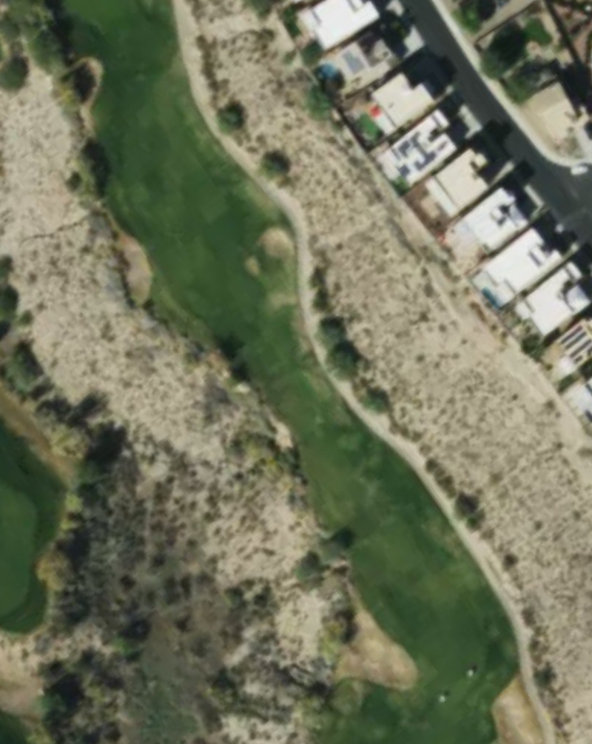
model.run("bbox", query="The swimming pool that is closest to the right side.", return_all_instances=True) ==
[481,286,500,311]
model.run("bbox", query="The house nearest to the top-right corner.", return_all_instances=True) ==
[530,82,577,140]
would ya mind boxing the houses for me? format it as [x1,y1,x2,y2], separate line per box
[558,319,592,374]
[461,186,528,255]
[487,227,563,305]
[377,109,457,185]
[516,263,591,337]
[530,82,577,140]
[426,148,489,215]
[341,38,392,94]
[371,72,435,133]
[297,0,379,49]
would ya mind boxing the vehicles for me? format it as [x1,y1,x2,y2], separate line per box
[570,165,587,174]
[467,668,473,677]
[438,694,444,704]
[584,121,592,140]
